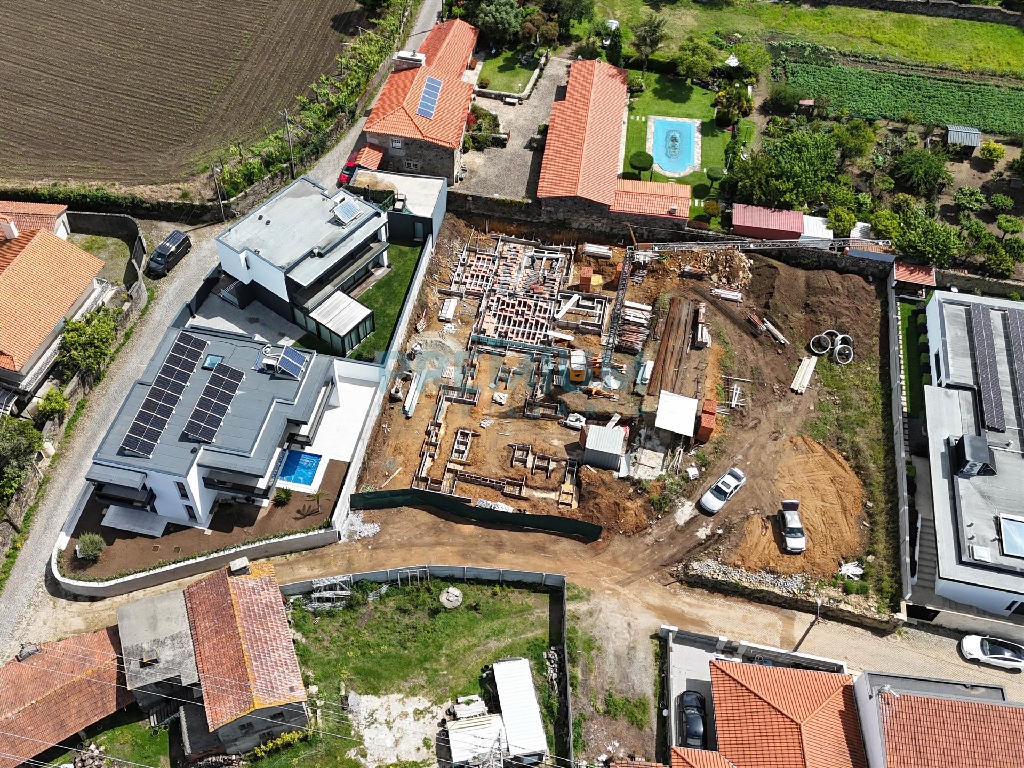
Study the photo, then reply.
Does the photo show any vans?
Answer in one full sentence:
Yes, the photo shows a van.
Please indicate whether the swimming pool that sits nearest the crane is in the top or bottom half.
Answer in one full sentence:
The swimming pool that sits nearest the crane is in the top half of the image.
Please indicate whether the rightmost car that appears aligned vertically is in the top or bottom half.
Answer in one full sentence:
The rightmost car that appears aligned vertically sits in the bottom half of the picture.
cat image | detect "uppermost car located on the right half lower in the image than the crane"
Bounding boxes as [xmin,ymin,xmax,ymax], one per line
[698,464,749,517]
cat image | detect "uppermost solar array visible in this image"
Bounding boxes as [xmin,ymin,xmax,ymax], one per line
[417,75,443,117]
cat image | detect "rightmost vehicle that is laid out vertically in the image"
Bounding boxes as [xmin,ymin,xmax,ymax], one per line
[779,496,810,555]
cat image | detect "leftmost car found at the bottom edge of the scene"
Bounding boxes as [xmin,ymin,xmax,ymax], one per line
[676,685,712,754]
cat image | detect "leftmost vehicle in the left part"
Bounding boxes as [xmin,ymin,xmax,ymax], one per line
[149,227,194,278]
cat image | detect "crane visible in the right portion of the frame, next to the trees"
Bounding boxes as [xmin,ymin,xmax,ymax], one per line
[591,224,892,372]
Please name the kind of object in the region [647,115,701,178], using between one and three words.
swimming pool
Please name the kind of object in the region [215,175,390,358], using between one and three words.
house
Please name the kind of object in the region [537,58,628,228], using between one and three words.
barn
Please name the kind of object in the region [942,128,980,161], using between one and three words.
shed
